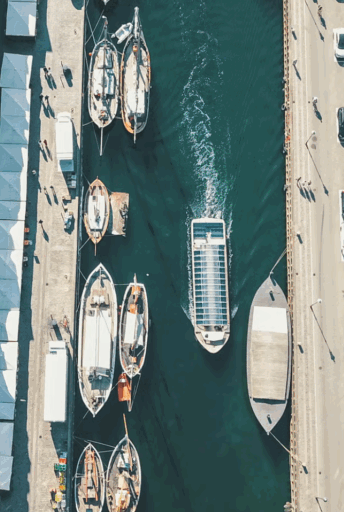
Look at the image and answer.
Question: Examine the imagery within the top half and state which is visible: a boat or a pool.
boat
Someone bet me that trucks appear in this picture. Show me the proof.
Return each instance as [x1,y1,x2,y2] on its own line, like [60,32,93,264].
[53,108,74,173]
[44,339,69,426]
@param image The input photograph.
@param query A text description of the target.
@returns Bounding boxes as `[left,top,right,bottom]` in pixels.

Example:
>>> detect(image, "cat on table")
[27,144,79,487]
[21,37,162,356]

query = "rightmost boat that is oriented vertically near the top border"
[120,3,151,144]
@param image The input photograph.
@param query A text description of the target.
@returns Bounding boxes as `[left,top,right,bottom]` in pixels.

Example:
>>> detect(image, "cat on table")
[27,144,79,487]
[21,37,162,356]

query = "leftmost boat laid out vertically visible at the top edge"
[87,22,119,151]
